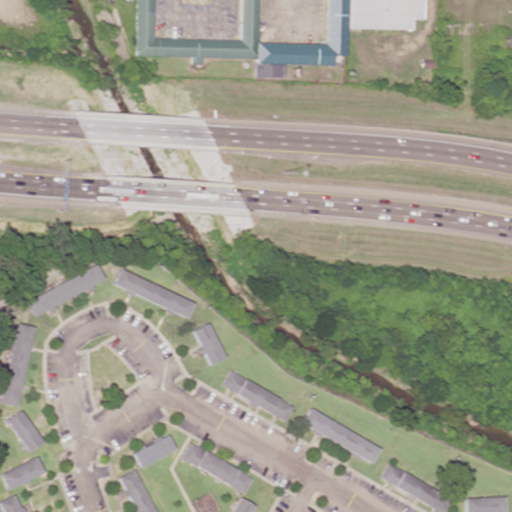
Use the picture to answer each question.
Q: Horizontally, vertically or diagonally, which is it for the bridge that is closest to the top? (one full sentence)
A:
The bridge that is closest to the top is laid out horizontally.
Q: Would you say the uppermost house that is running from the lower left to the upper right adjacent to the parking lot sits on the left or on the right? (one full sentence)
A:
You can find the uppermost house that is running from the lower left to the upper right adjacent to the parking lot on the left side of the picture.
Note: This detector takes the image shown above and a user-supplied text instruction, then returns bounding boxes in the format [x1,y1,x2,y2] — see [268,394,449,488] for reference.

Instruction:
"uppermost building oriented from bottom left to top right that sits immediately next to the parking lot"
[28,263,106,318]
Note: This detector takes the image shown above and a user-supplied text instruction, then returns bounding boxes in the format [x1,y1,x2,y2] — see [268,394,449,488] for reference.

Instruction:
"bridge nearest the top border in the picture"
[72,110,220,152]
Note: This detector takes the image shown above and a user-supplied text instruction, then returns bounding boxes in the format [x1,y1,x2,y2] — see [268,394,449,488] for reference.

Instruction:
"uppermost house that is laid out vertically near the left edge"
[0,322,36,406]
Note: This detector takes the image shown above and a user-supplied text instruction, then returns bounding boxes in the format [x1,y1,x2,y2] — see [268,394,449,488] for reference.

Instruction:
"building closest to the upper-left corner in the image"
[136,0,258,65]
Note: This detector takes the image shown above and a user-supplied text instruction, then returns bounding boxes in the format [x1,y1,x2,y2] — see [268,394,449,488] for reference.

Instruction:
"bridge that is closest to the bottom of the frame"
[108,174,253,218]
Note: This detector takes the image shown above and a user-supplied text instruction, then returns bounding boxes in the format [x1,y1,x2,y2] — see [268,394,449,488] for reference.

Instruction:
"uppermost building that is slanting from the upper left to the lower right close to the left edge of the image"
[7,410,43,452]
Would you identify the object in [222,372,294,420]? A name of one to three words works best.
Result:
house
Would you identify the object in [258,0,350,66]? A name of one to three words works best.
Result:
building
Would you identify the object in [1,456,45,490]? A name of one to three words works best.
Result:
house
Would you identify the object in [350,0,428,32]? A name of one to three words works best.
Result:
building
